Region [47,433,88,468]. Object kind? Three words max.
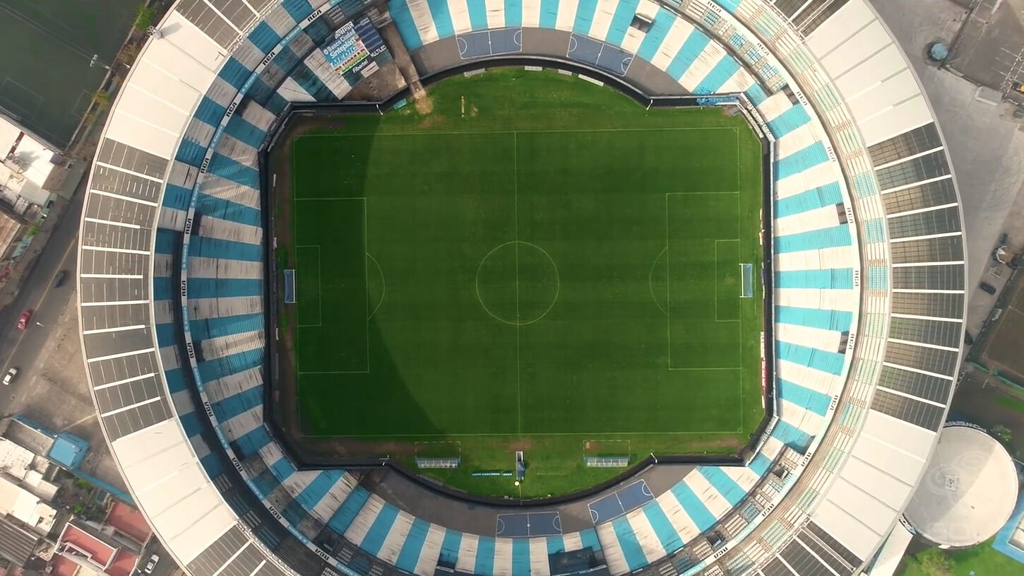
building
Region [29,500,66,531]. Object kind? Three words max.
house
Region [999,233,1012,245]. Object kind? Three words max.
vehicle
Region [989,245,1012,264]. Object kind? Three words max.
gazebo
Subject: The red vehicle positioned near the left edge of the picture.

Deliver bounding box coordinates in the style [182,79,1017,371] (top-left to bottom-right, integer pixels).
[16,310,32,330]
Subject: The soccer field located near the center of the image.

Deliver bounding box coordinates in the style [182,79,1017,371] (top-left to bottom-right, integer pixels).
[273,67,764,499]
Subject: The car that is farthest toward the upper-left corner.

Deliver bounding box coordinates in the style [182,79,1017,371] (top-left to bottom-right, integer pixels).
[52,269,67,287]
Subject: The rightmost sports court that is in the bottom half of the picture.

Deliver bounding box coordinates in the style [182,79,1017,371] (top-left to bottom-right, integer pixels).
[588,479,654,525]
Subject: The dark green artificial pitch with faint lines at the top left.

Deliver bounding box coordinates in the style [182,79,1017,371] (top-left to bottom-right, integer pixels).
[0,0,144,146]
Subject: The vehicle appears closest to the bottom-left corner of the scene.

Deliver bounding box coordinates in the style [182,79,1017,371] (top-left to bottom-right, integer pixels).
[144,554,158,574]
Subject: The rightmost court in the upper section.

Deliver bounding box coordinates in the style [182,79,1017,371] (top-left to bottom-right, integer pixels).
[568,34,633,76]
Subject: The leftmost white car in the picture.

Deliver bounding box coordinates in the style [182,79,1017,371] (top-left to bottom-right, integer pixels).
[1,366,16,385]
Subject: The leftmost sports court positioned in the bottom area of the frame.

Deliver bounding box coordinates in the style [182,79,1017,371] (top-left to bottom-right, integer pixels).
[497,512,561,537]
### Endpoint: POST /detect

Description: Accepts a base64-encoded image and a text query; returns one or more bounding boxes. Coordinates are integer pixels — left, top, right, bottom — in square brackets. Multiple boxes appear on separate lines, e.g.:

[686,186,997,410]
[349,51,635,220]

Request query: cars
[16,310,32,330]
[144,554,158,574]
[52,269,67,287]
[980,282,997,294]
[999,233,1012,245]
[992,307,1004,321]
[1,366,16,385]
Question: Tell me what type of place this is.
sports ground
